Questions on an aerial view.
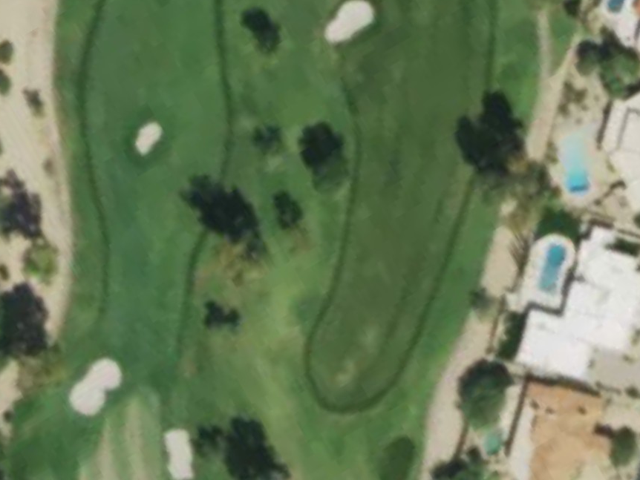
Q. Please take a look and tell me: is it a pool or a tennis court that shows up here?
pool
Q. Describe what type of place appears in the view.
golf course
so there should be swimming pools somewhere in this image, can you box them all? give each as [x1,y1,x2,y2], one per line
[483,432,502,454]
[606,0,625,14]
[538,241,569,293]
[560,132,590,195]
